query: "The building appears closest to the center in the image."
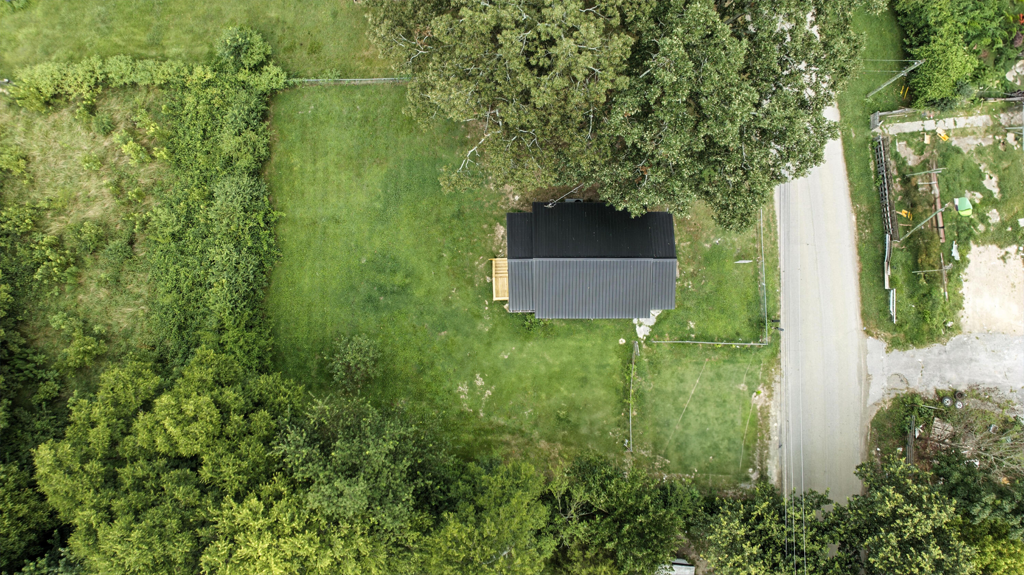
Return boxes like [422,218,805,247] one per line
[488,199,677,319]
